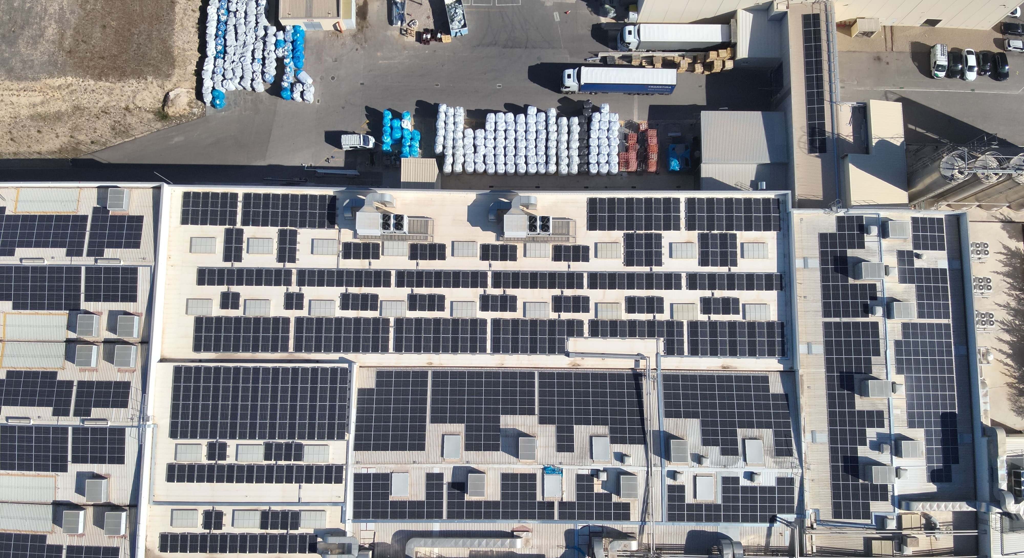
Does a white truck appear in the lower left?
No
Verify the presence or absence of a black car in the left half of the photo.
No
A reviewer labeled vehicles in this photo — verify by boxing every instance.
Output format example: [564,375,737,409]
[929,43,950,80]
[947,51,964,80]
[1003,22,1024,37]
[617,24,730,52]
[561,66,677,95]
[341,134,376,151]
[992,52,1012,83]
[977,52,994,77]
[961,49,980,81]
[1005,39,1024,53]
[1004,7,1020,19]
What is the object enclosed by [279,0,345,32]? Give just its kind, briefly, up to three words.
building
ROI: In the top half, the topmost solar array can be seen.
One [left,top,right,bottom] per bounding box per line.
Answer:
[803,13,826,153]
